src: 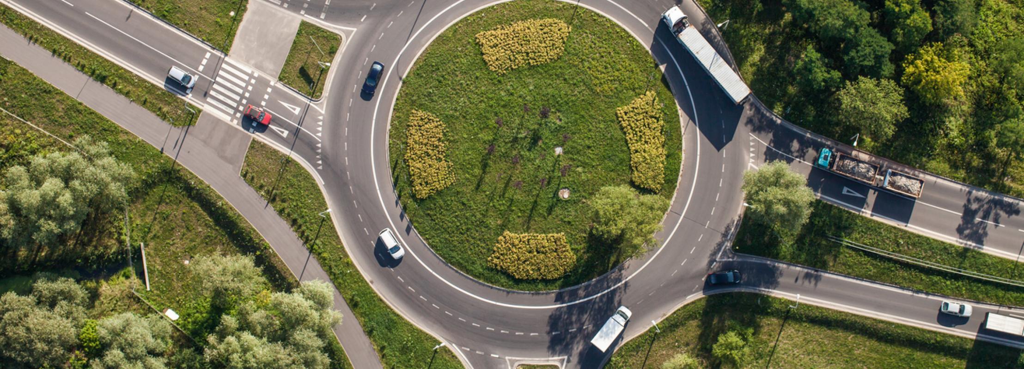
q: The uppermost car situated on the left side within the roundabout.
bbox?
[362,60,384,95]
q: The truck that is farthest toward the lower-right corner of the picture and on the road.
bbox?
[982,313,1024,337]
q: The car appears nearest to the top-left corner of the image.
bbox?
[166,65,197,88]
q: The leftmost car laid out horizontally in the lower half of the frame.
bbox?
[707,270,741,285]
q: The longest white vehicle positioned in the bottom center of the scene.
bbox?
[590,305,632,352]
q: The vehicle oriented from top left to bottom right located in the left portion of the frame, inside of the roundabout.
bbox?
[379,228,404,259]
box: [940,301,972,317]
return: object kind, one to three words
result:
car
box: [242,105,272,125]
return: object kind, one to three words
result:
car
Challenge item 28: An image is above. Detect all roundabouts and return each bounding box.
[327,0,745,355]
